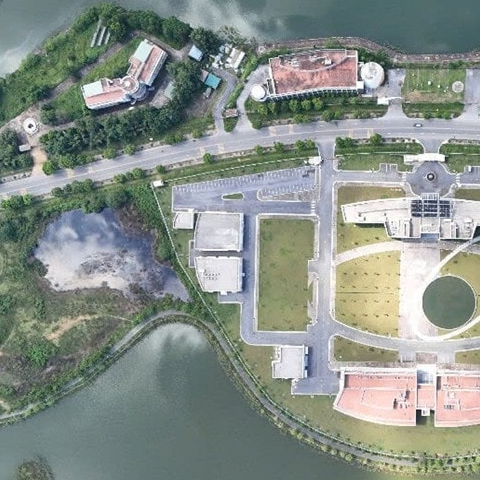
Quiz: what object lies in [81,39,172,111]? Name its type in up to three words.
building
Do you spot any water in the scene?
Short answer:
Yes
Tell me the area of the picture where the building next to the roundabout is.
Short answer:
right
